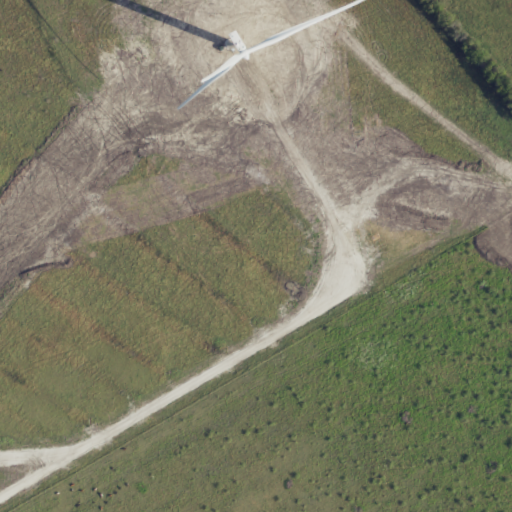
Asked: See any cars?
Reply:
No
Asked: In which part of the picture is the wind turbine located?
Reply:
top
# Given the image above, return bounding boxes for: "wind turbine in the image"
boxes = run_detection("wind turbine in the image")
[180,0,368,107]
